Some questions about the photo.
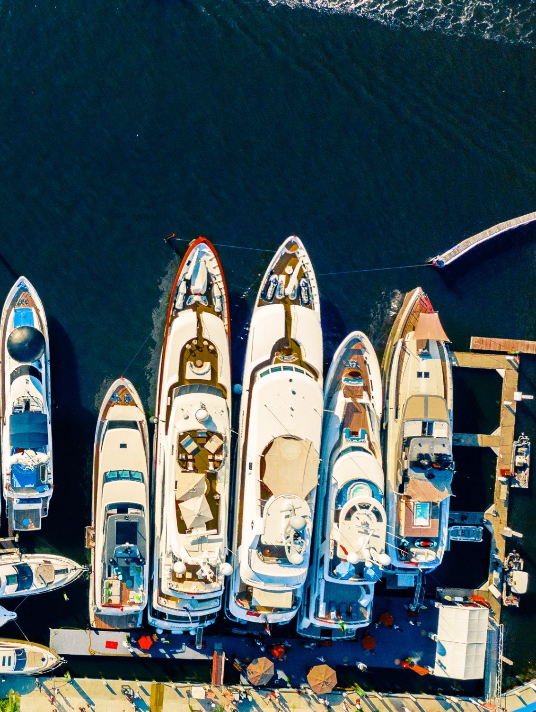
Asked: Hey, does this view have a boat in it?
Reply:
Yes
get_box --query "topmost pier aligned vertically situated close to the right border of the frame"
[447,352,519,624]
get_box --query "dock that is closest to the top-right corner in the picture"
[469,335,536,355]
